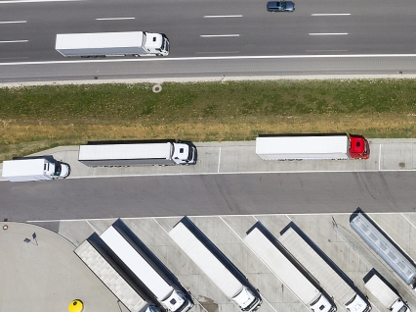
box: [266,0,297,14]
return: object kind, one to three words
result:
car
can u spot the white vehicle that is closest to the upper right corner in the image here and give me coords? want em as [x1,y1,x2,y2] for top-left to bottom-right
[256,136,370,160]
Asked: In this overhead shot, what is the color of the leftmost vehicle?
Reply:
white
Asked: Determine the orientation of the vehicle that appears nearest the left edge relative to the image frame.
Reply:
from left to right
